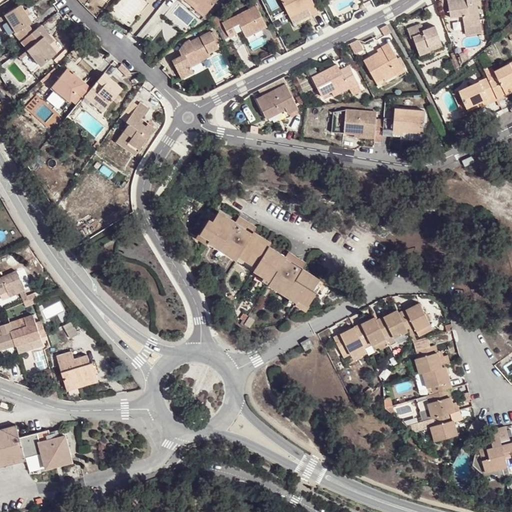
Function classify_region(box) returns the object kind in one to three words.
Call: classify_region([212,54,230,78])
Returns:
swimming pool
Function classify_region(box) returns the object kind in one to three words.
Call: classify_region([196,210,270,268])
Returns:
building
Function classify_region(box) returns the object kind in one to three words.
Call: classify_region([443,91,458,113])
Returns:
swimming pool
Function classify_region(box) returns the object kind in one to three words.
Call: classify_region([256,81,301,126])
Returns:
house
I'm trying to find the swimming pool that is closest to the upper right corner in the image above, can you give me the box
[462,35,482,48]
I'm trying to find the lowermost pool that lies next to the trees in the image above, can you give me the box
[454,450,476,490]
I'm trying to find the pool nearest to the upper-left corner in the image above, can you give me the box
[9,62,26,82]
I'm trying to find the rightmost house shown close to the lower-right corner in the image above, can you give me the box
[480,427,512,475]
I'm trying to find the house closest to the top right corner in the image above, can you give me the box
[447,0,484,36]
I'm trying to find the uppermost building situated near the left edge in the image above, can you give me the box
[4,6,32,36]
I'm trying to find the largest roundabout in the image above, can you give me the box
[136,340,248,450]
